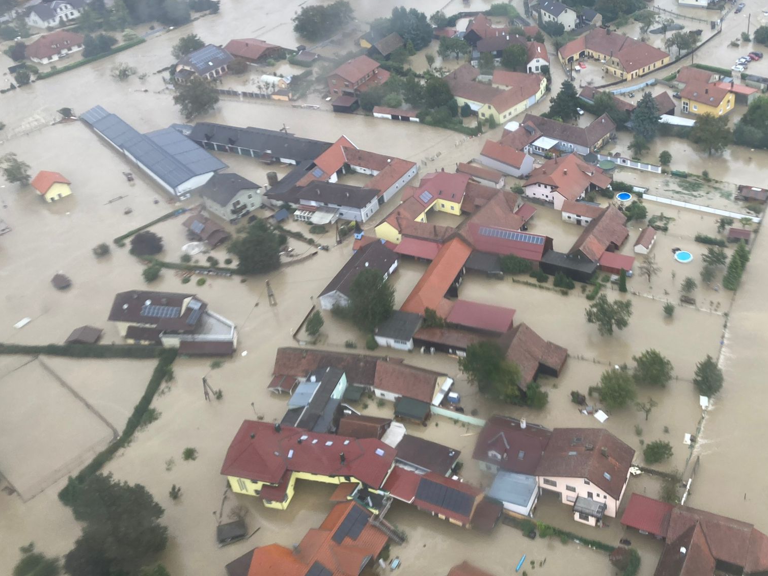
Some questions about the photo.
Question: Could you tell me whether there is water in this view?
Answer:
Yes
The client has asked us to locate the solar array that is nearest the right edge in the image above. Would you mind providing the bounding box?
[479,227,545,245]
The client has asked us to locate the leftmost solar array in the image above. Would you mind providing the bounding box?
[141,306,181,318]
